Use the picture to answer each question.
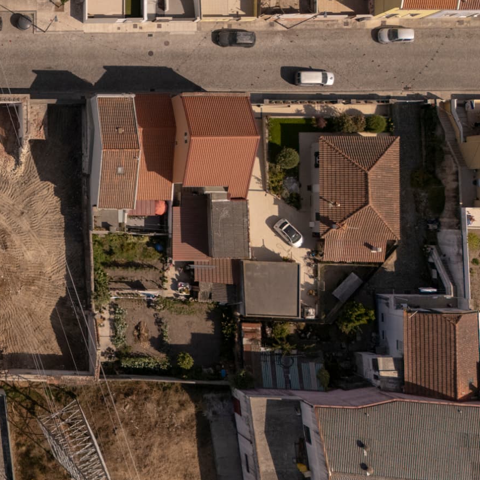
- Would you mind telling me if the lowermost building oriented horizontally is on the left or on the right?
right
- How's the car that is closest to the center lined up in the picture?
at an angle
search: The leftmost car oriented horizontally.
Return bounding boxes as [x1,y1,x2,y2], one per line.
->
[214,30,255,48]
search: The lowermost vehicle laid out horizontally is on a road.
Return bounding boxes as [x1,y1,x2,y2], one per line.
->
[294,69,332,87]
